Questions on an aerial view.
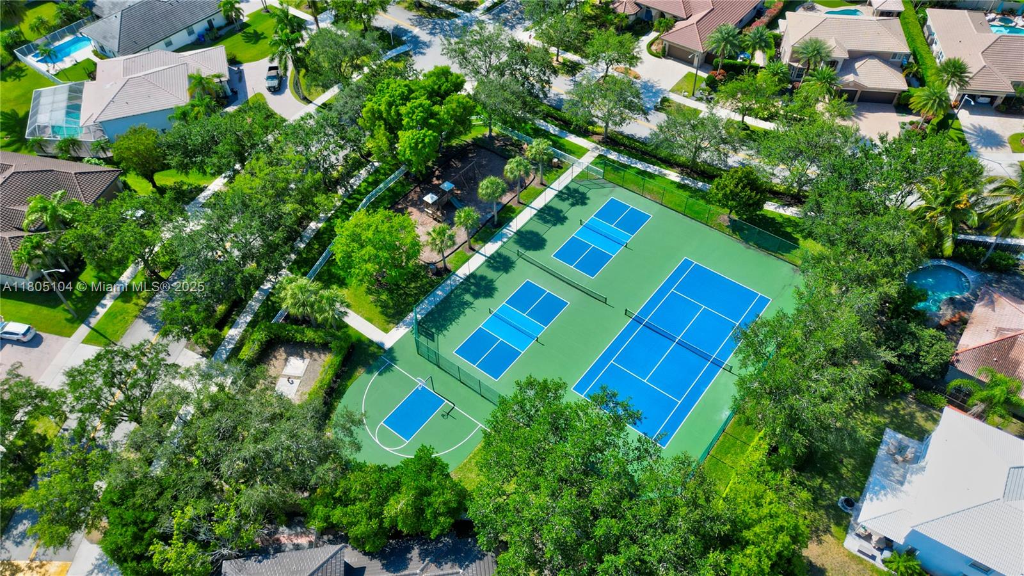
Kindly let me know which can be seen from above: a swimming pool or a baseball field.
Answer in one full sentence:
There is a swimming pool in the scene.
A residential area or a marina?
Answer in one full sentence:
This image shows a residential area.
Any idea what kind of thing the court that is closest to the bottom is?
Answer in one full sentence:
The court that is closest to the bottom in the image is a basketball court.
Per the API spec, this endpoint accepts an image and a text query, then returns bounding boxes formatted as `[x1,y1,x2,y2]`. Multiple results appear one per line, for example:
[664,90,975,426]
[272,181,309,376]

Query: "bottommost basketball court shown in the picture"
[358,359,490,460]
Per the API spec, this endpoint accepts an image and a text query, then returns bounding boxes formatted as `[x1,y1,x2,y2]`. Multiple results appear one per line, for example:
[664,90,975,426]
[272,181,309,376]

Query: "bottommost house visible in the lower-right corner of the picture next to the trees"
[849,404,1024,576]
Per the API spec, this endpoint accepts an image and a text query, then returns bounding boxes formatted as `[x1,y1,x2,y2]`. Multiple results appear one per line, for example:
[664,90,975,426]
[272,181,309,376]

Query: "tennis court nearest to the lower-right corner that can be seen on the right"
[572,257,770,448]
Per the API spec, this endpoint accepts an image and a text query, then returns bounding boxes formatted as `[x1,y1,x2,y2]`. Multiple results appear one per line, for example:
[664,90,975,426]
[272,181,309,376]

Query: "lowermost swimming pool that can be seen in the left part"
[52,102,82,138]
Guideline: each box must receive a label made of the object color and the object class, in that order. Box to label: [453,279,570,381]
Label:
blue sports court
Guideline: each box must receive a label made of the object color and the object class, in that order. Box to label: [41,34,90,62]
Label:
blue swimming pool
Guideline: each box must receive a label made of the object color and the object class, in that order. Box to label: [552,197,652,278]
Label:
blue sports court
